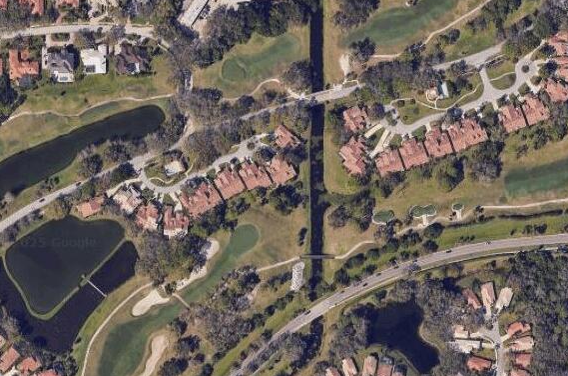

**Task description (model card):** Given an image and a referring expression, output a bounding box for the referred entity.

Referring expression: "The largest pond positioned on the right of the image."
[363,298,440,373]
